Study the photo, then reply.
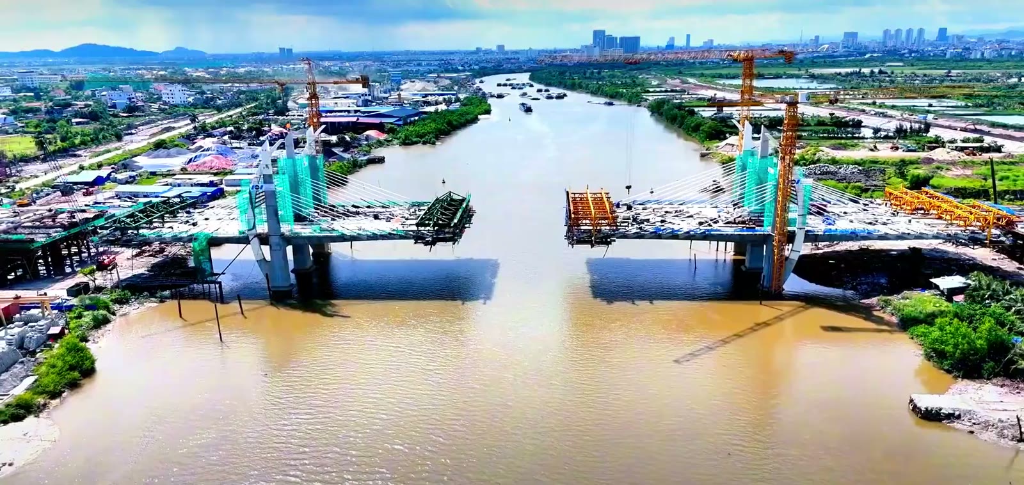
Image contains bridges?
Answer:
Yes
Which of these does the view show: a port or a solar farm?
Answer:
port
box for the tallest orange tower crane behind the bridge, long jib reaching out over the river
[547,52,783,193]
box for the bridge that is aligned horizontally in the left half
[80,124,430,294]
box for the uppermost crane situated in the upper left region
[51,62,376,150]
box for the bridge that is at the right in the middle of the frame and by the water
[611,119,993,295]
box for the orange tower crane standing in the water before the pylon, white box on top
[710,95,966,301]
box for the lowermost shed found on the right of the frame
[926,274,981,298]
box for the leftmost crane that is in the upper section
[43,137,76,204]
